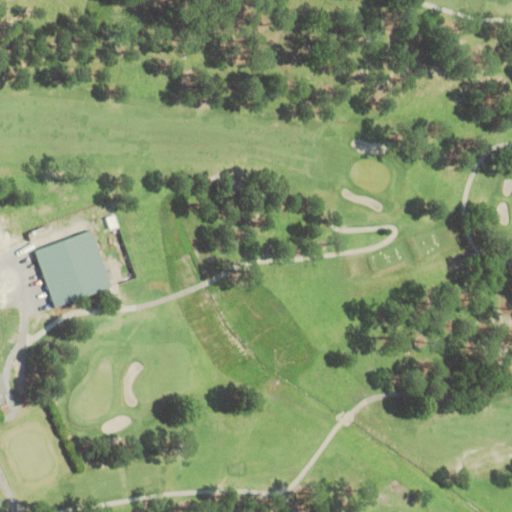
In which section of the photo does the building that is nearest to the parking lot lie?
left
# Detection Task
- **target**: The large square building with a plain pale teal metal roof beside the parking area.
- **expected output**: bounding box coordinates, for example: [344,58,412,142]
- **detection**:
[36,230,110,308]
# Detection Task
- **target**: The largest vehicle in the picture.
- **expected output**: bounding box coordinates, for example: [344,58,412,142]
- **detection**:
[14,244,36,257]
